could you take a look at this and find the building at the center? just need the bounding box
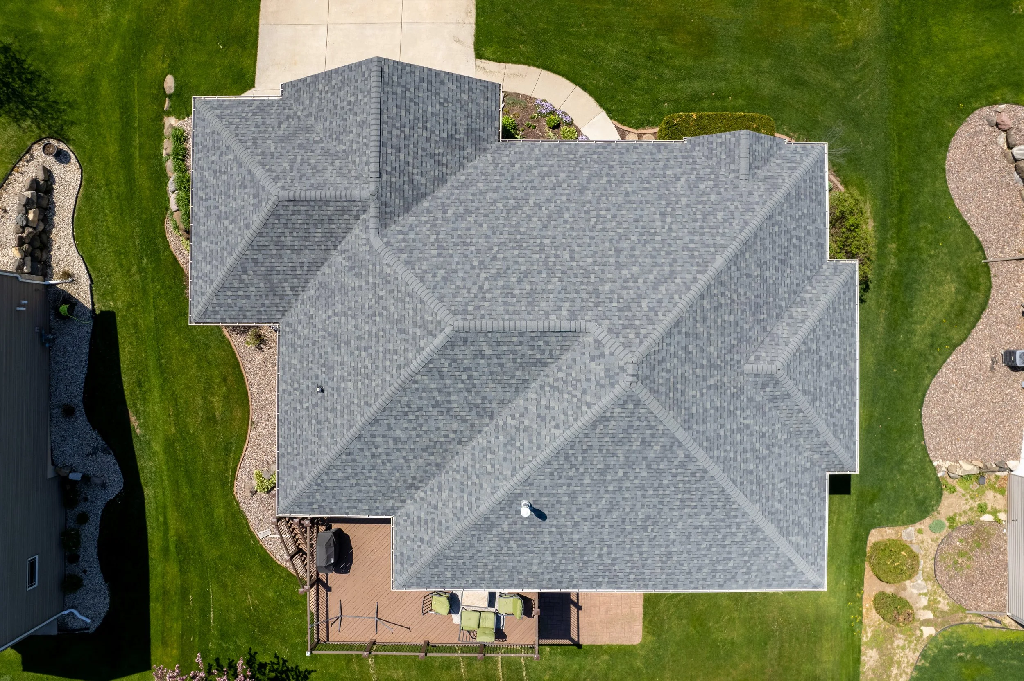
[188,54,860,594]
